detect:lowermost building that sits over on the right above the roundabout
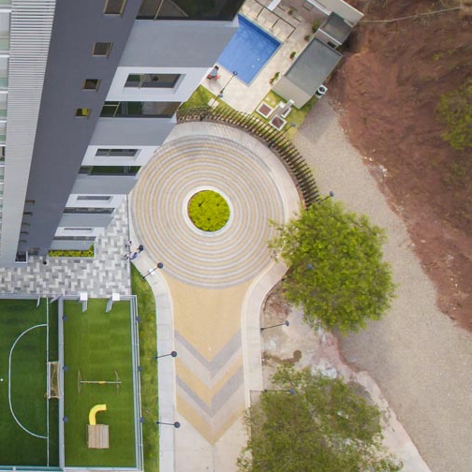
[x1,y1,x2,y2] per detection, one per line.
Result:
[274,37,343,108]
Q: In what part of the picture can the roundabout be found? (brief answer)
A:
center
